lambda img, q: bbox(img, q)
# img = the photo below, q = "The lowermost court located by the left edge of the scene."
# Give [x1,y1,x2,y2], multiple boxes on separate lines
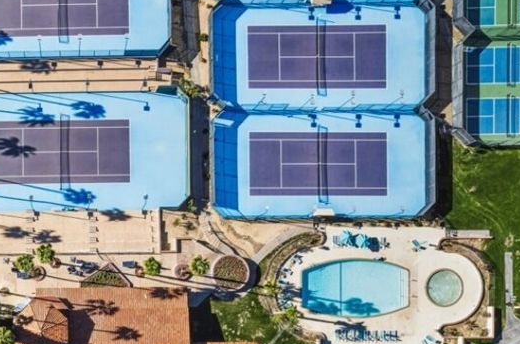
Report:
[0,91,189,208]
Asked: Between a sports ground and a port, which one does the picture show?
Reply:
sports ground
